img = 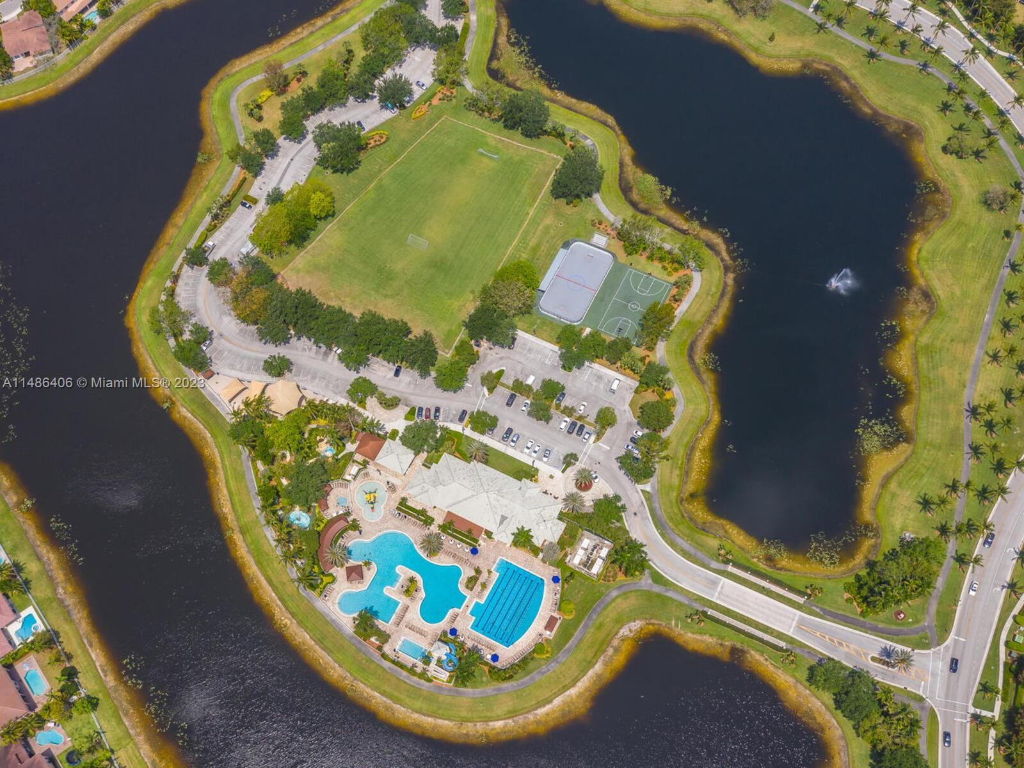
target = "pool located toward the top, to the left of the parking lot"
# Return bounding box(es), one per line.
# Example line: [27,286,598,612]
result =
[84,9,100,24]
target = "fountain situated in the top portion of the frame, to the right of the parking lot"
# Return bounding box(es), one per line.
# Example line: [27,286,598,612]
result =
[821,263,861,297]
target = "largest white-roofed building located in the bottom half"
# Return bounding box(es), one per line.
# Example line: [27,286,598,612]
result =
[405,453,566,547]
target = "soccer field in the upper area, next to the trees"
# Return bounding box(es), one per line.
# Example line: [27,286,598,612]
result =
[281,116,562,356]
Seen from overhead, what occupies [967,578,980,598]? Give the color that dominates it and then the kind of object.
white vehicle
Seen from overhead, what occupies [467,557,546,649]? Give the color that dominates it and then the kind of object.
blue swimming pool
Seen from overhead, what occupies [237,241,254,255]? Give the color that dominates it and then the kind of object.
white vehicle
